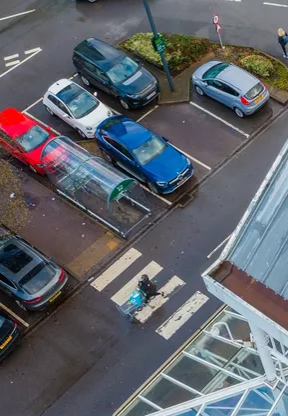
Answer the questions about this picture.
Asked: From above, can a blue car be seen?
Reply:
Yes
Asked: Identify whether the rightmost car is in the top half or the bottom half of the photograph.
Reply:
top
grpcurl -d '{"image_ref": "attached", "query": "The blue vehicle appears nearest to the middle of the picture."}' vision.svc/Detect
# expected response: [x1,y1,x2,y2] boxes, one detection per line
[87,114,192,193]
